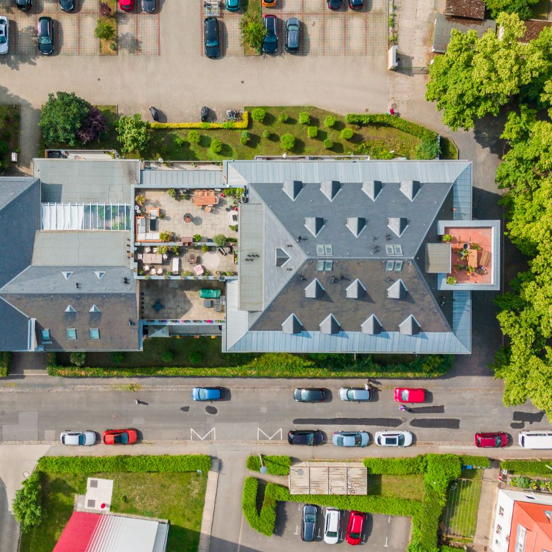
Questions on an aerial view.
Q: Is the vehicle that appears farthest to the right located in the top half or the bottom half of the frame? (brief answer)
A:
bottom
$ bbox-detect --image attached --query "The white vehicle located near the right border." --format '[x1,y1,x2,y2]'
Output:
[518,430,552,449]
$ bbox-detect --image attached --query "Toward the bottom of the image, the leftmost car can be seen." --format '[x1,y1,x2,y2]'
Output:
[61,429,96,447]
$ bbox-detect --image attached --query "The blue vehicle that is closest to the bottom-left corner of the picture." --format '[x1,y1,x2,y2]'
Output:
[192,384,224,404]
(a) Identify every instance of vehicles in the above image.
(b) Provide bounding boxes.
[261,0,276,8]
[202,15,223,58]
[141,0,157,13]
[473,431,508,449]
[119,0,135,11]
[518,430,552,449]
[61,429,96,447]
[288,429,324,447]
[225,0,241,12]
[0,15,11,55]
[293,385,326,405]
[374,429,412,448]
[326,0,343,10]
[347,512,367,544]
[36,16,55,56]
[284,17,302,53]
[339,384,372,404]
[15,0,33,11]
[59,0,75,13]
[332,429,369,448]
[394,386,425,405]
[348,0,364,11]
[300,505,320,540]
[192,384,224,404]
[261,14,280,55]
[103,427,137,446]
[323,508,343,543]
